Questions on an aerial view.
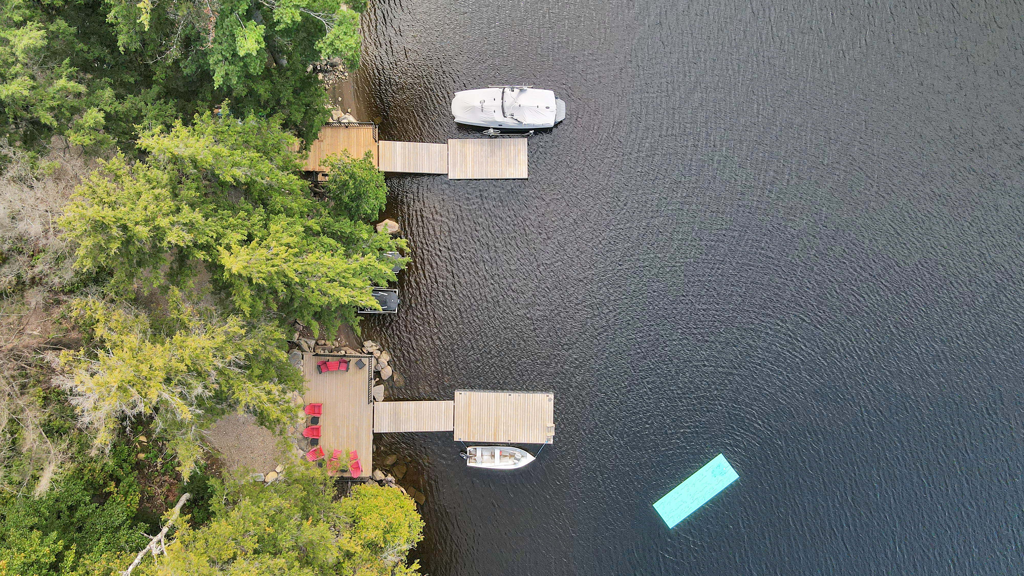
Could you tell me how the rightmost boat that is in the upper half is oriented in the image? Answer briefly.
from side to side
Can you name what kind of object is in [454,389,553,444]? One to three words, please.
pier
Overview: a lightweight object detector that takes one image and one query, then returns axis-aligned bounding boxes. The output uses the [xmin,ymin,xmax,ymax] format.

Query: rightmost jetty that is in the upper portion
[448,138,527,180]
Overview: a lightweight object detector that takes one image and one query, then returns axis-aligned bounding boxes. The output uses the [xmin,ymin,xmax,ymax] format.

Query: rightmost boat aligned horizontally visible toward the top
[451,83,565,129]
